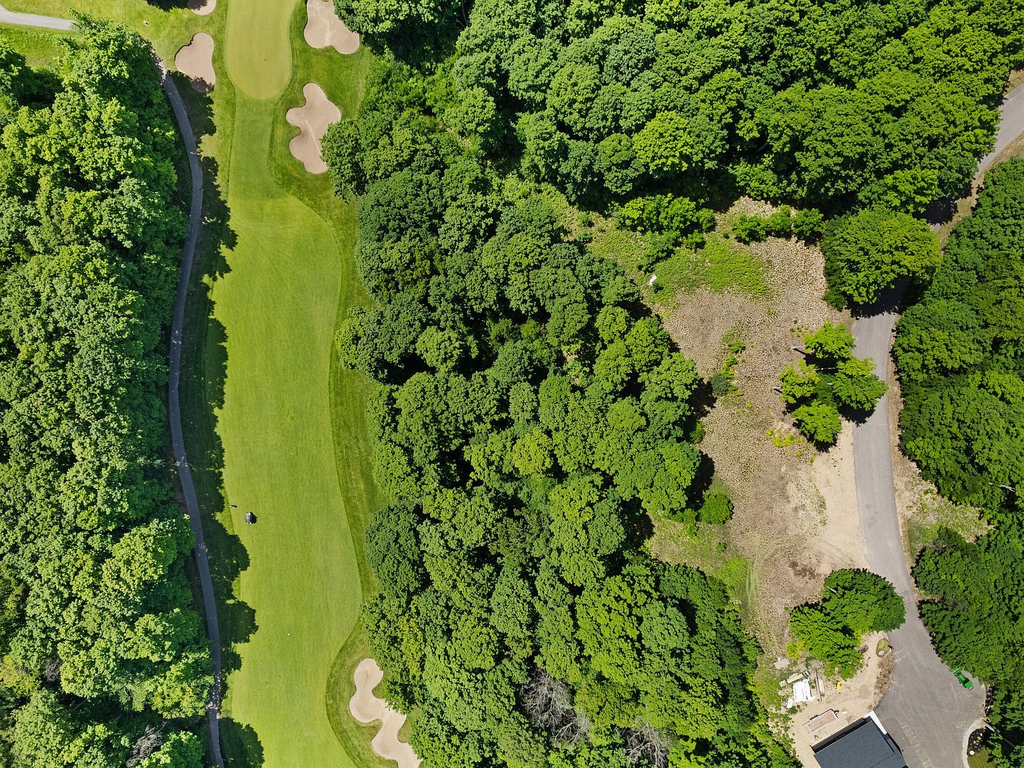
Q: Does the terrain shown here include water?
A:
No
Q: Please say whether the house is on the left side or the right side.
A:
right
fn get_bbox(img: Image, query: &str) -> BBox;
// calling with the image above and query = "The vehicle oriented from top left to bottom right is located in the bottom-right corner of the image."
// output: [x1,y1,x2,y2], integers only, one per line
[953,668,974,688]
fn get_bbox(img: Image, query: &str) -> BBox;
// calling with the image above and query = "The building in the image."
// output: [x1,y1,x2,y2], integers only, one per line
[813,717,905,768]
